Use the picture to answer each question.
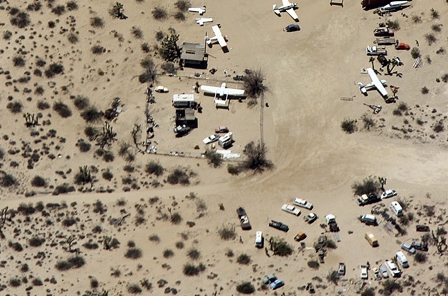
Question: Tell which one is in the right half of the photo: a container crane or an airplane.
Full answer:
The one visible in the right half of the photo is an airplane.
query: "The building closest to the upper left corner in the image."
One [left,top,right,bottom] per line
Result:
[181,43,205,66]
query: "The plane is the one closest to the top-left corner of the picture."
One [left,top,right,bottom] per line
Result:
[203,25,226,48]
